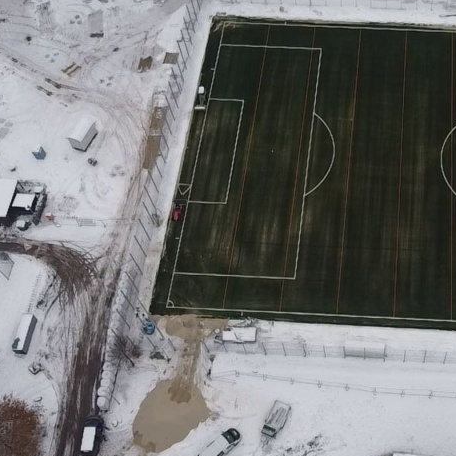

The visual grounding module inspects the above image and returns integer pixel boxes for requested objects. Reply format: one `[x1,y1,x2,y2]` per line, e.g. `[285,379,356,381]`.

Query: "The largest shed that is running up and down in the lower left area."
[14,314,38,354]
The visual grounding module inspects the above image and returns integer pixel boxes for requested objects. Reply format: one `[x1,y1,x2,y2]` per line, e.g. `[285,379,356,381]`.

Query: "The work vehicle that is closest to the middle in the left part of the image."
[173,195,188,220]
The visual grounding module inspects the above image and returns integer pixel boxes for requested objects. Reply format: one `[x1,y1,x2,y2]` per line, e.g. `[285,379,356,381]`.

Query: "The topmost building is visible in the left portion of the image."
[66,116,98,151]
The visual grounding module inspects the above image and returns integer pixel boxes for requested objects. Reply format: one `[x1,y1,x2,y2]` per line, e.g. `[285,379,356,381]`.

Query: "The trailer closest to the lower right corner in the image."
[260,399,292,449]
